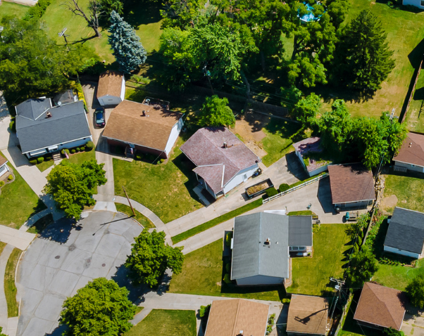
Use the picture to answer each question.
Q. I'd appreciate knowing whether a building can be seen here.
Yes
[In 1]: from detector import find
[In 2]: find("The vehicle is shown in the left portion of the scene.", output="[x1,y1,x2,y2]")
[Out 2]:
[92,104,104,126]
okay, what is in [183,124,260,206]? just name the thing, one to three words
house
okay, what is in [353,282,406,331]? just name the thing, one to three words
building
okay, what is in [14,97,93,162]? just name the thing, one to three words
house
